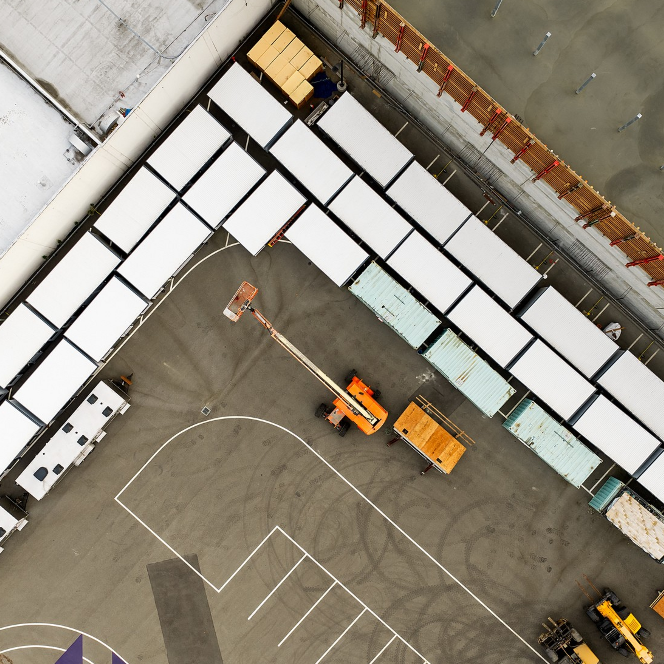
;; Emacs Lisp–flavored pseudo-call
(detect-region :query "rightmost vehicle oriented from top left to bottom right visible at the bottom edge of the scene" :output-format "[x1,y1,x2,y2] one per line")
[575,575,653,664]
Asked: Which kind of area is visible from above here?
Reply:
industrial area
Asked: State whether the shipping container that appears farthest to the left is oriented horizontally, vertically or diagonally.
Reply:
diagonally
